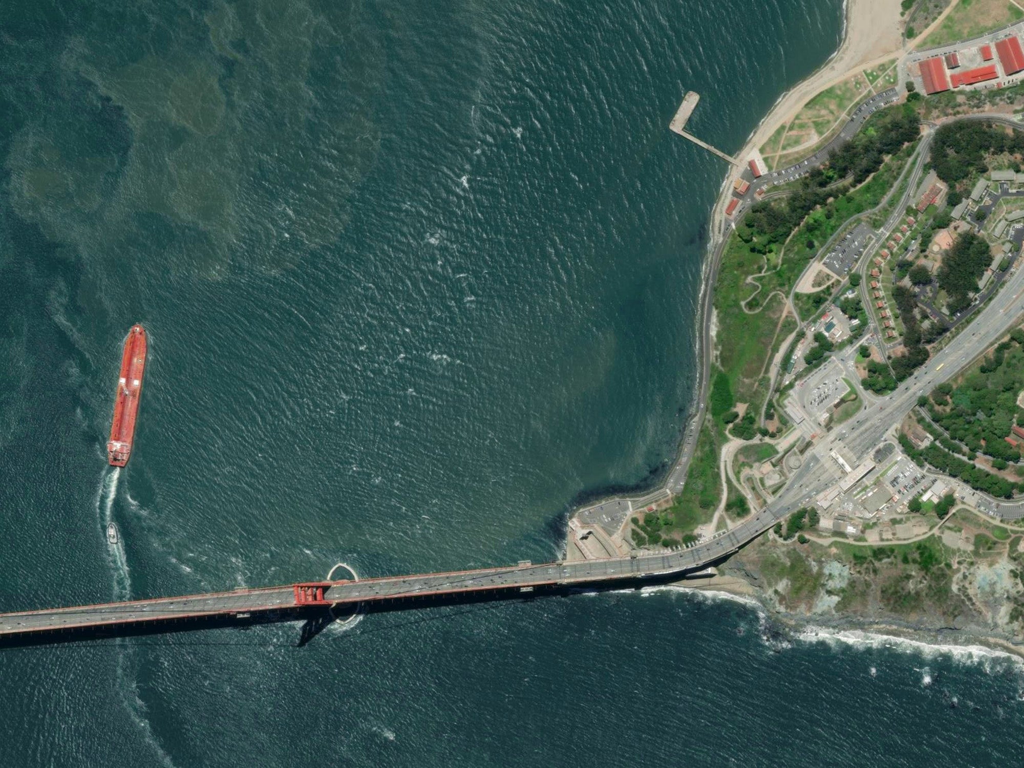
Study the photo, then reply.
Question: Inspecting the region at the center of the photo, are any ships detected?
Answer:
No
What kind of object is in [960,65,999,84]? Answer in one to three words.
building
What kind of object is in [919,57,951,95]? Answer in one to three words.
building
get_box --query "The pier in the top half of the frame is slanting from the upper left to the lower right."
[669,91,739,167]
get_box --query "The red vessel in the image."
[107,324,148,466]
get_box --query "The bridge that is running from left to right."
[0,507,776,636]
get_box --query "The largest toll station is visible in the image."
[813,429,865,484]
